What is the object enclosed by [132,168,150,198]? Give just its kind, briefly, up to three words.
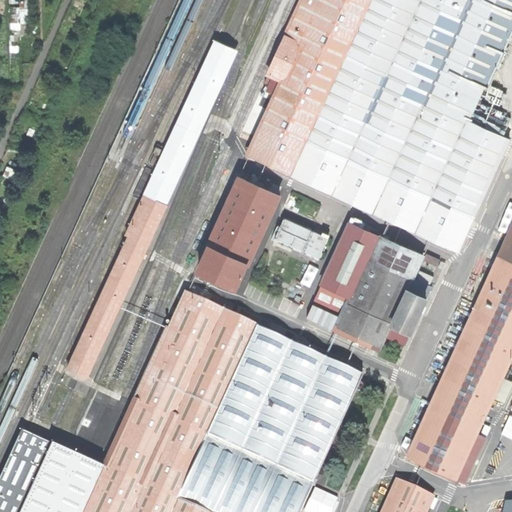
rail car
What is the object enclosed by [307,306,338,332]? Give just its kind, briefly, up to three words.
shed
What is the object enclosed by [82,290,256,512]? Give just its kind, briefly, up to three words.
building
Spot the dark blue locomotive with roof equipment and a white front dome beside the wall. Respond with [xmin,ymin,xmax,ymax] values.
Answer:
[122,90,147,135]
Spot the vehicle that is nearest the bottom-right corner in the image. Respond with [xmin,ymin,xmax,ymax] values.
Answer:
[487,440,508,472]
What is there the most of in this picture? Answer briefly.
buildings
